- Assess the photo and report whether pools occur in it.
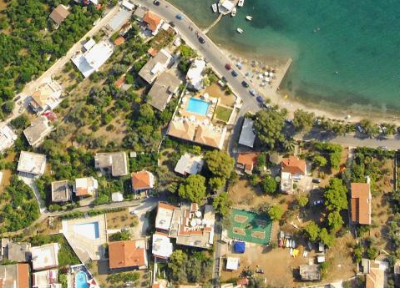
Yes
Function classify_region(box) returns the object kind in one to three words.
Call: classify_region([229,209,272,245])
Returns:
sports court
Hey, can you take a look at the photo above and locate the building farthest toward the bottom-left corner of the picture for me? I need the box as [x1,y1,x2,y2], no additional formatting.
[0,260,30,288]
